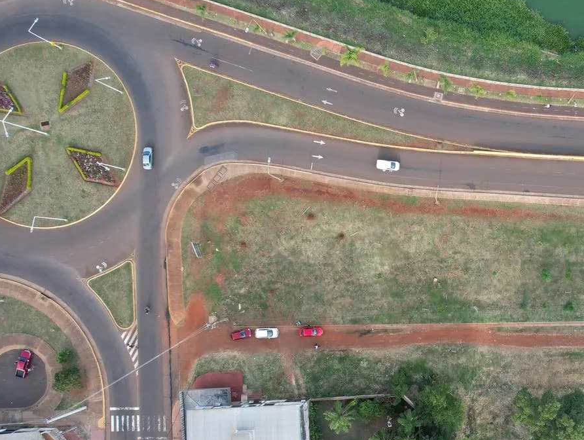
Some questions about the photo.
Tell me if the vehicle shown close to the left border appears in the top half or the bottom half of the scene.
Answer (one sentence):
The bottom half of the photo is where the vehicle shown close to the left border is.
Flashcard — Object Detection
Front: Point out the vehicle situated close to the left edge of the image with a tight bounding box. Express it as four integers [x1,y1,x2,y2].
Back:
[12,349,33,381]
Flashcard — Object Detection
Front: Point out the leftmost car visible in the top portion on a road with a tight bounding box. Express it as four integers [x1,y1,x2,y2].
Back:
[139,146,153,171]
